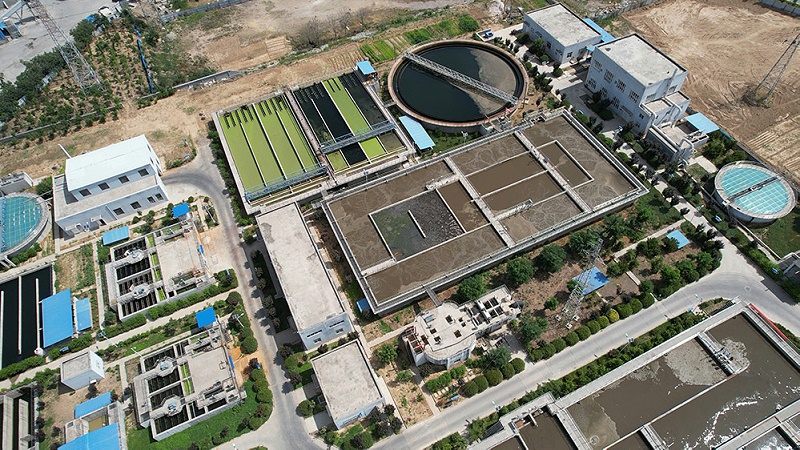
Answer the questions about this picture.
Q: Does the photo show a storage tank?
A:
Yes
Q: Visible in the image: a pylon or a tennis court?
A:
pylon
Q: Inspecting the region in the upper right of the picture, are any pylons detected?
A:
Yes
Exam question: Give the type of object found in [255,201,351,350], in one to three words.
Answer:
building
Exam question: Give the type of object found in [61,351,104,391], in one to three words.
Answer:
shed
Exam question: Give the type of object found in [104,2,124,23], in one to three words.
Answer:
vehicle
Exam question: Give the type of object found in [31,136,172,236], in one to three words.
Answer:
building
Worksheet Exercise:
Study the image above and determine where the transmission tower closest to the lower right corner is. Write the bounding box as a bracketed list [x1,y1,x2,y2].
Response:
[555,238,608,327]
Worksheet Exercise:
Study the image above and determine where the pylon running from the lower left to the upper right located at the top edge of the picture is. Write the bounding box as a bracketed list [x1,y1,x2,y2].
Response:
[754,20,800,98]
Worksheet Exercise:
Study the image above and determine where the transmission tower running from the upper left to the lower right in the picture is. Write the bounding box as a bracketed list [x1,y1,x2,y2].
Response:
[23,0,105,98]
